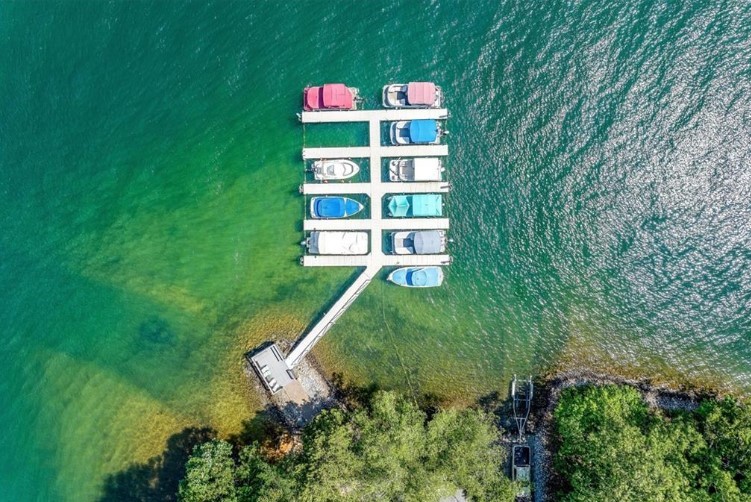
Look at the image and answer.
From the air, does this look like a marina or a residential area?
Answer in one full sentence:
The area seen from above is a marina.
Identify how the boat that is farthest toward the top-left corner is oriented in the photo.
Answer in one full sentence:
The boat that is farthest toward the top-left corner is laid out from side to side.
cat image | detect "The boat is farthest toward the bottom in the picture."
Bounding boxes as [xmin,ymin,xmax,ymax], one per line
[387,262,447,289]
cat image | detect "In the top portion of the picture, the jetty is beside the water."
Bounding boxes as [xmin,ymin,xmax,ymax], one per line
[302,108,450,280]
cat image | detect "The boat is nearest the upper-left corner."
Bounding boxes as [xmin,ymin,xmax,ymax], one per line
[304,83,362,114]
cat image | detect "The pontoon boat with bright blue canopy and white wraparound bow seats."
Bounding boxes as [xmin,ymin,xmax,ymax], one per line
[390,119,447,145]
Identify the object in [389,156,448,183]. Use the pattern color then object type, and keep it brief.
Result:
white boat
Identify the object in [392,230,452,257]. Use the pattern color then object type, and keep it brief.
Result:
white boat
